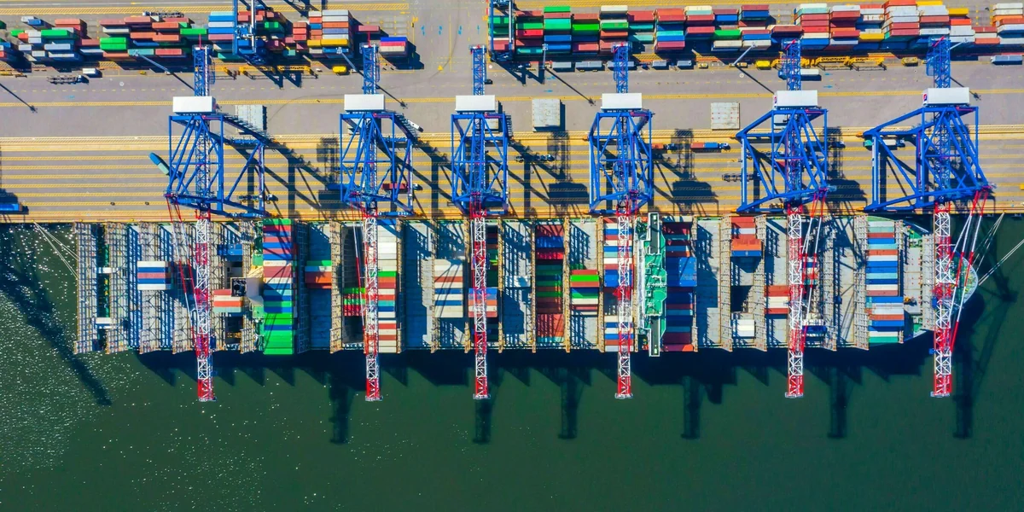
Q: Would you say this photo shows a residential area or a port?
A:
port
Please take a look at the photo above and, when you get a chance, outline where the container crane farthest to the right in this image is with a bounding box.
[848,33,1001,400]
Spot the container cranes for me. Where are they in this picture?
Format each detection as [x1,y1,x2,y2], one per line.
[339,43,426,403]
[489,0,518,58]
[449,40,519,403]
[575,38,658,401]
[231,0,275,57]
[848,33,1001,400]
[159,44,282,404]
[722,35,838,401]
